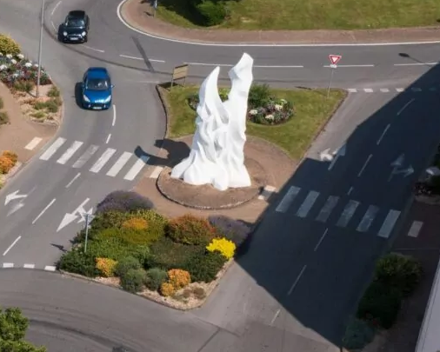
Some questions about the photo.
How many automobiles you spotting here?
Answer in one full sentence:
Looking from above, you can make out 2 automobiles.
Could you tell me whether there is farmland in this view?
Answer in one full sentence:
No, the picture contains no farmland.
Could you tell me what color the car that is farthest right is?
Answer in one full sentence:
The car that is farthest right is blue.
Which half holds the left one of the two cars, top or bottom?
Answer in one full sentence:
Seen from above, the left one of the two cars lies in the top half of the view.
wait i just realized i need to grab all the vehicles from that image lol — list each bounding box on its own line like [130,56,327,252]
[60,3,93,44]
[79,62,115,109]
